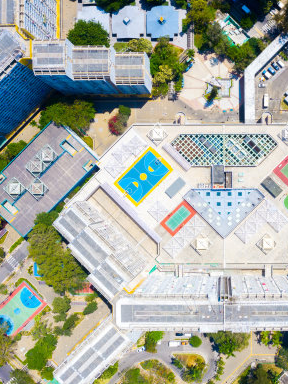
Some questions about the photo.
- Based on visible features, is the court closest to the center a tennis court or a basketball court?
basketball court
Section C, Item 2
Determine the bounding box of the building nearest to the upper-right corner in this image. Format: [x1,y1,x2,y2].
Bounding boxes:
[220,15,250,48]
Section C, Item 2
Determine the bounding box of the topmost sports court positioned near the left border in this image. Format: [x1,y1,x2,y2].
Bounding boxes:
[0,281,47,337]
